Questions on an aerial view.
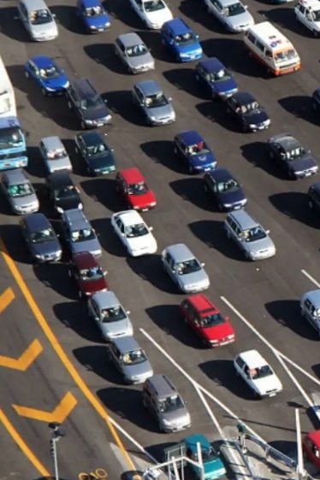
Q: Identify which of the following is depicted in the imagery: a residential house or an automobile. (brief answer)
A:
automobile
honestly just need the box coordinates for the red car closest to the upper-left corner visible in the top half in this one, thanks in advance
[117,166,158,209]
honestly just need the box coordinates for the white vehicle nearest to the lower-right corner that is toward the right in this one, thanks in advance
[235,349,279,396]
